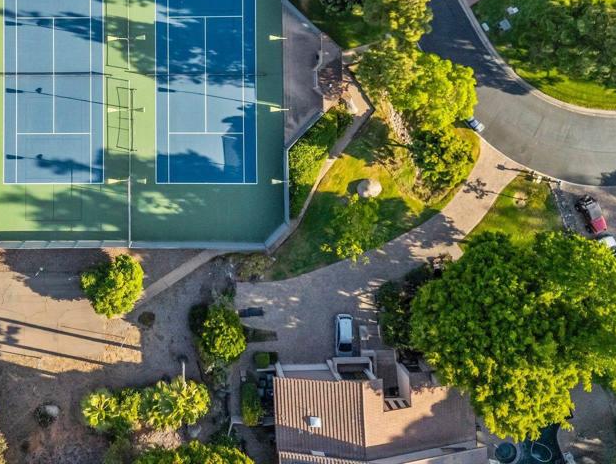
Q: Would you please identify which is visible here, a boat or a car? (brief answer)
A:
car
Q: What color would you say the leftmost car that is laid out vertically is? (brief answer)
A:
blue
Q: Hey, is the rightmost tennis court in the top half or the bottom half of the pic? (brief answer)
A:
top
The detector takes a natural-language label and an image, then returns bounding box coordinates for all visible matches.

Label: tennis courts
[0,0,128,243]
[128,0,285,243]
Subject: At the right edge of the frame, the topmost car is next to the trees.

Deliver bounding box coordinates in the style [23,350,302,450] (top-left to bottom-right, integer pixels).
[577,195,612,237]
